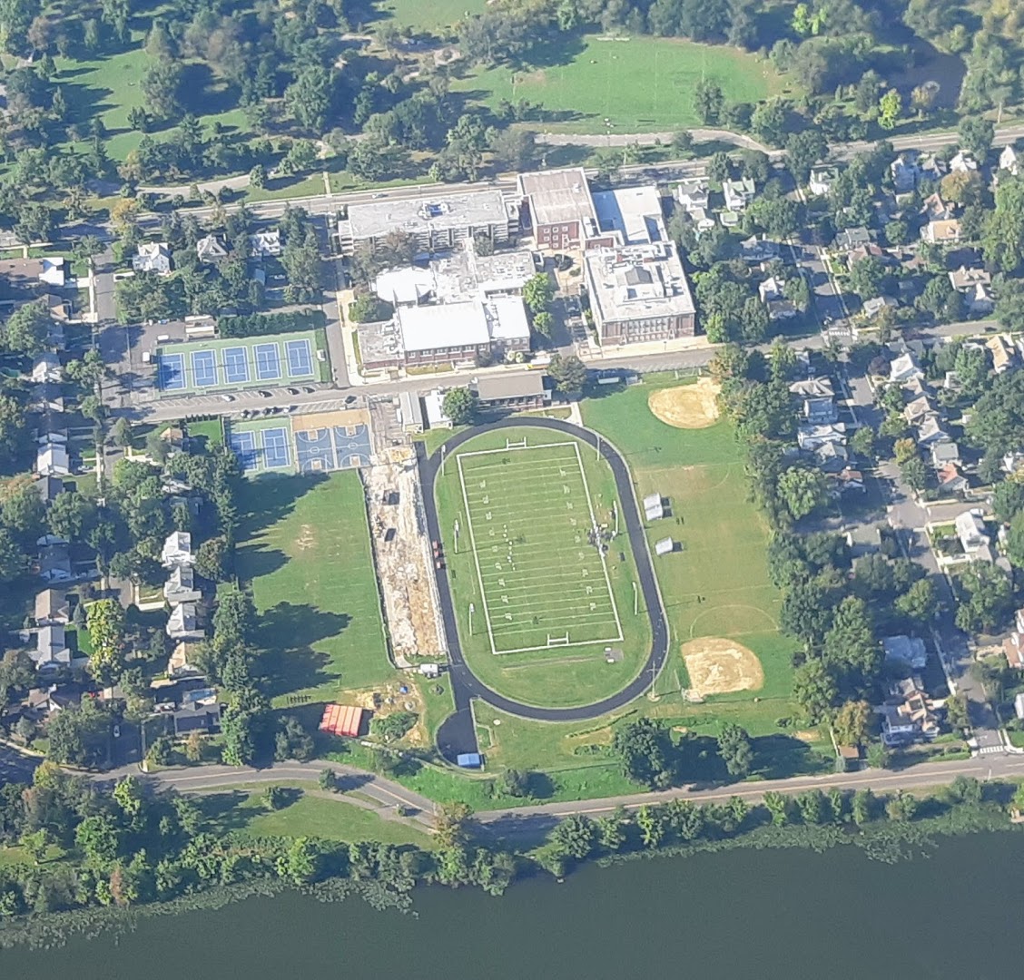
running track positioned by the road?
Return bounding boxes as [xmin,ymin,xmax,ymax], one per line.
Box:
[417,416,671,771]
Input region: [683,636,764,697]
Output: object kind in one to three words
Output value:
baseball field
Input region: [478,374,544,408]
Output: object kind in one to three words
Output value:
building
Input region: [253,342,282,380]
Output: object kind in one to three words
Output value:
tennis court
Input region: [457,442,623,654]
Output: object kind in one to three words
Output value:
sports field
